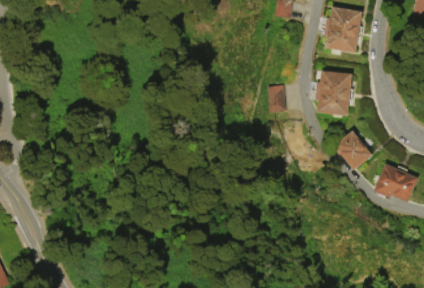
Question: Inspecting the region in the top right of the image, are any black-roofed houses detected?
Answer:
No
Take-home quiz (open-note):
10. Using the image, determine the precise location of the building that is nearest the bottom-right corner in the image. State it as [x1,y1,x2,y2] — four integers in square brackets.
[374,164,418,203]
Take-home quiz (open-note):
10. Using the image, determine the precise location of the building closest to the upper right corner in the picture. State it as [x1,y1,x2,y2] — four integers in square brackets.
[322,6,362,54]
